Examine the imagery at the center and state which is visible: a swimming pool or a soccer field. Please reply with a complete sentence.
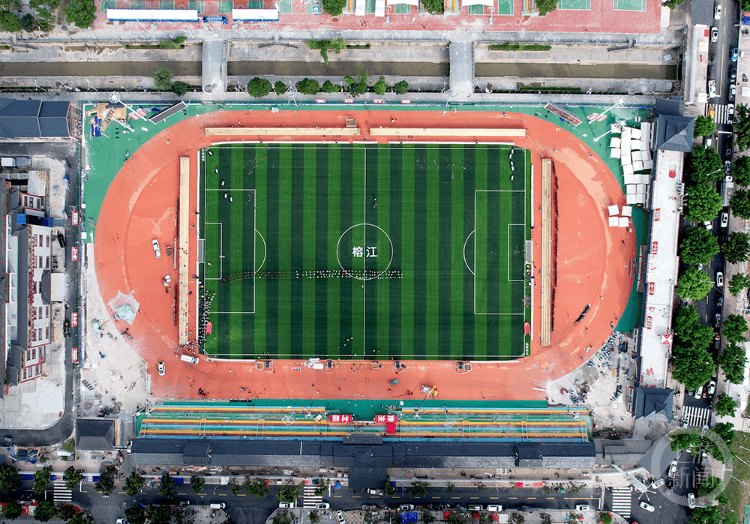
It is a soccer field that can be seen at the center.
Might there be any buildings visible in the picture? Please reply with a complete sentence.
Yes, the photo shows a building.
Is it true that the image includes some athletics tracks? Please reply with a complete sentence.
Yes, looking at the shot, I can spot an athletics track.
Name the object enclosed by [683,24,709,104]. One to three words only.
house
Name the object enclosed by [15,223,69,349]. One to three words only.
house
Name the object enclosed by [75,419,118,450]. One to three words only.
building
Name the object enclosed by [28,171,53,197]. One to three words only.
shed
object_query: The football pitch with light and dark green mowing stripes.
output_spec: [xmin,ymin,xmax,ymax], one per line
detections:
[199,144,531,360]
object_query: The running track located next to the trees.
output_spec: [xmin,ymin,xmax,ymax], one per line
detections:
[94,110,637,401]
